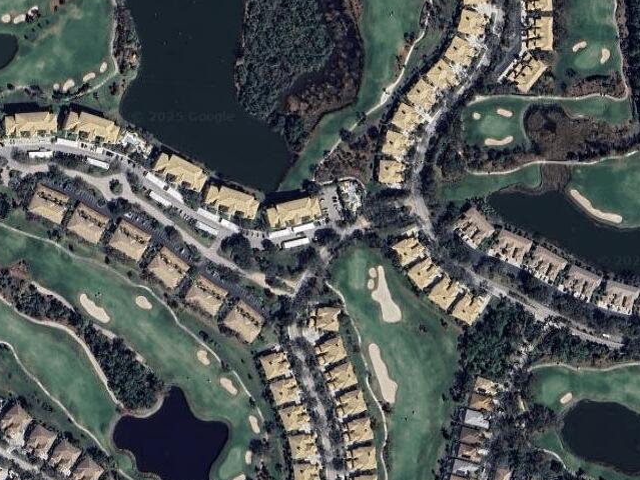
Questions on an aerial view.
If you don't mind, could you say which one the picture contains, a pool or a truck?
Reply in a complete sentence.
Of the two, only a pool appears.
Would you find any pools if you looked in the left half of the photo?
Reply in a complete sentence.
Yes, I can see a pool in the left half of the photo.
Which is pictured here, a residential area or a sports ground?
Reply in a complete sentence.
It's a residential area.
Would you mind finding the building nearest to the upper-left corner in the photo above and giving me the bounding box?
[3,110,58,136]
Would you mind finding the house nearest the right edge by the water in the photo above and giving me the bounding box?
[601,280,639,310]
